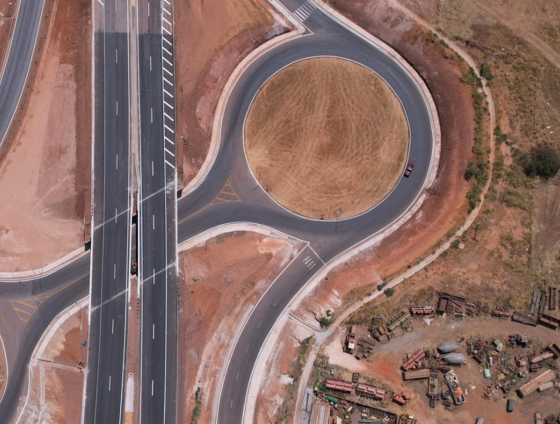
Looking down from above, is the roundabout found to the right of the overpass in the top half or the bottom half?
top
